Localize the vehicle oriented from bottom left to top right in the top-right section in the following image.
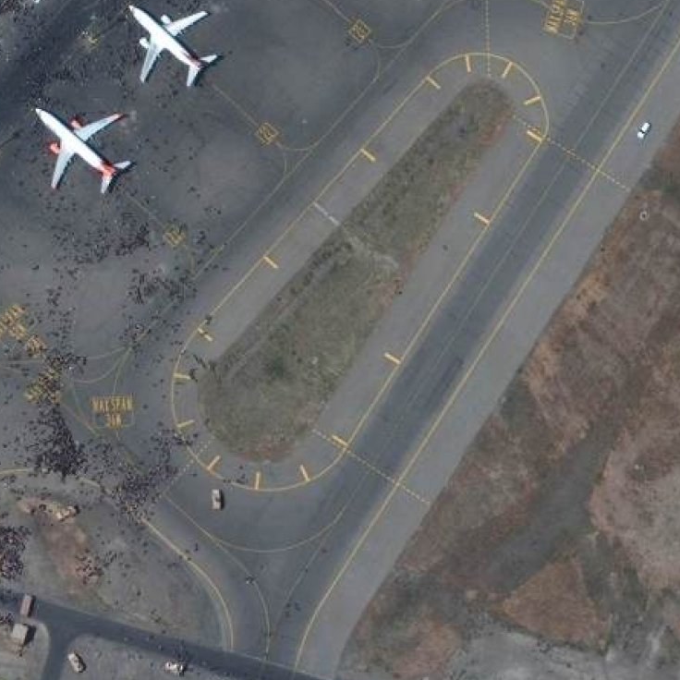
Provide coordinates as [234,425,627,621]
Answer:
[637,121,650,138]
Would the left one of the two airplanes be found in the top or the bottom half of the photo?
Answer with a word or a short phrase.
top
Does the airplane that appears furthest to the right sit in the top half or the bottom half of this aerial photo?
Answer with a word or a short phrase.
top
